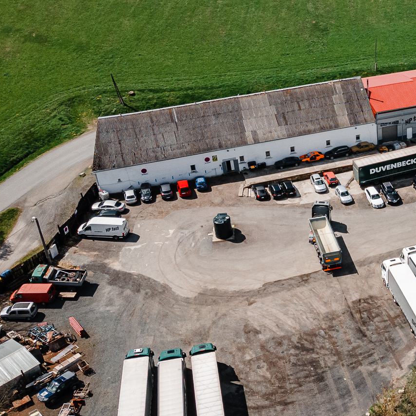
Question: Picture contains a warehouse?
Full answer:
Yes, a warehouse can be made out from above.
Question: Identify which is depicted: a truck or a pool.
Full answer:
Of the two, only a truck appears.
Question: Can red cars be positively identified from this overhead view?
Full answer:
Yes, this view includes a red car.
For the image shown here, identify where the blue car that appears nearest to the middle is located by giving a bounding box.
[193,174,208,191]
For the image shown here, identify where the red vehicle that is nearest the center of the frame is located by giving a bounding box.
[175,181,191,198]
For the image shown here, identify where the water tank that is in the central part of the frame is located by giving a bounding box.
[210,214,237,245]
